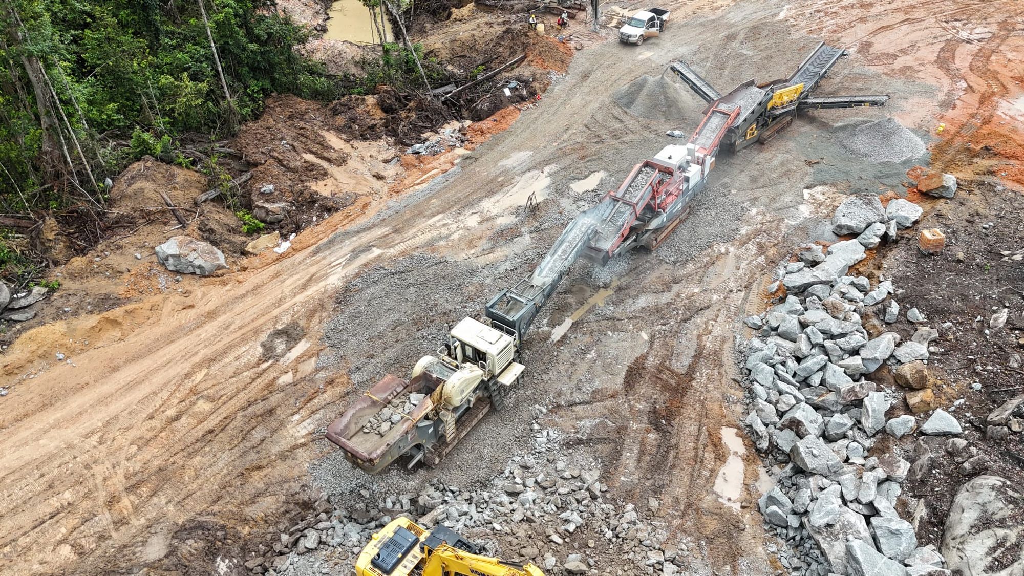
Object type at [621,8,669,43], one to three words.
truck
